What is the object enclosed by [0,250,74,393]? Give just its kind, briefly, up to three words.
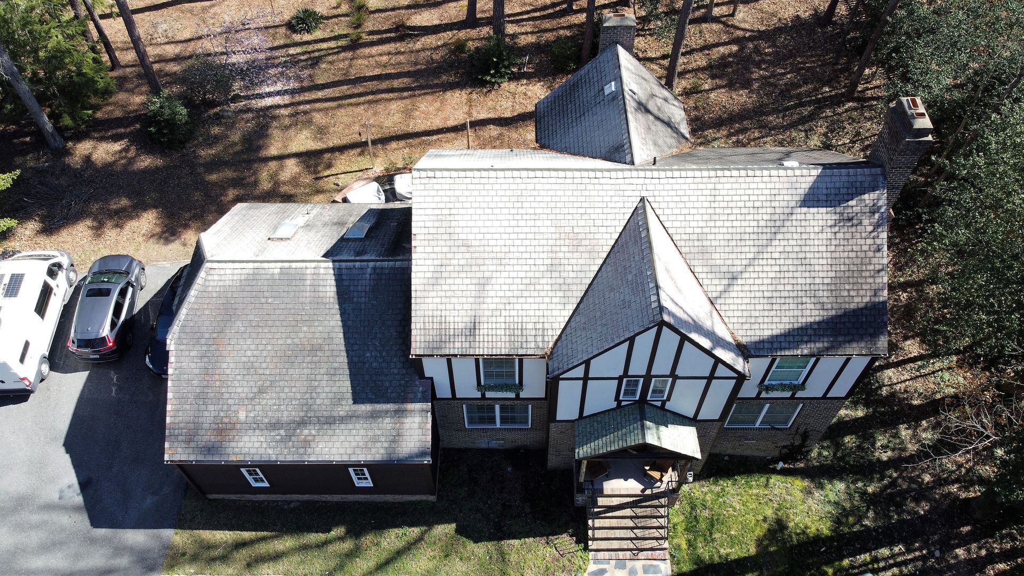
van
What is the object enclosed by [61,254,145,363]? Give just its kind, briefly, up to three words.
car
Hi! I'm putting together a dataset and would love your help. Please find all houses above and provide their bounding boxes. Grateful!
[158,12,935,508]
